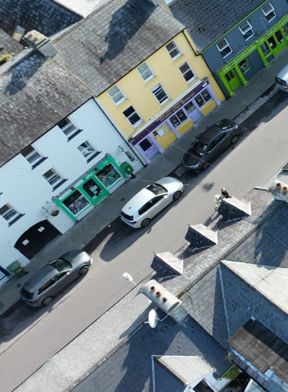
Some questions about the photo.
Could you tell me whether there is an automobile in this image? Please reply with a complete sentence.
Yes, an automobile is visible in the scene.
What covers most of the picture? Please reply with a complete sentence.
Most of the picture is covered by buildings.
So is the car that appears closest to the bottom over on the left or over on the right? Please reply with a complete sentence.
The car that appears closest to the bottom appears in the left half of the scene.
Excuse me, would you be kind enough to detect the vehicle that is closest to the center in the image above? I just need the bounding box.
[116,180,185,234]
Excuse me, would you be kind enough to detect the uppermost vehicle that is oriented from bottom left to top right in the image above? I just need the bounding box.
[178,120,244,175]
